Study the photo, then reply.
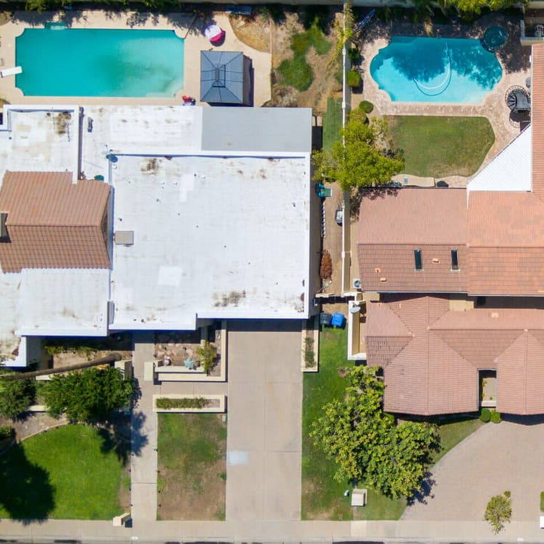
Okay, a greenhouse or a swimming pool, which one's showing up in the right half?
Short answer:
swimming pool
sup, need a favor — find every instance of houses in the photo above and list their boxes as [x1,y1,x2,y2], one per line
[0,105,320,365]
[356,42,544,417]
